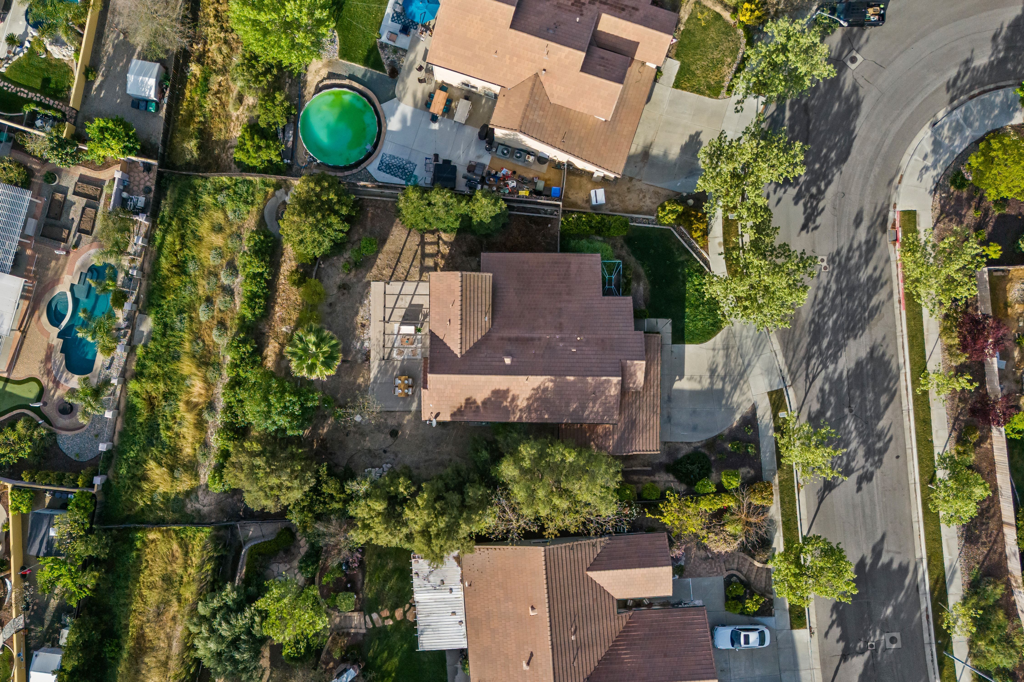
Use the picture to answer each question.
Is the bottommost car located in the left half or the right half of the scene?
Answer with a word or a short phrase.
right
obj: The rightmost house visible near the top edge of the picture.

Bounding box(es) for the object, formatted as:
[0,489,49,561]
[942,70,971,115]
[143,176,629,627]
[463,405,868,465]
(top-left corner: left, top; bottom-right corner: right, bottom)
[425,0,681,176]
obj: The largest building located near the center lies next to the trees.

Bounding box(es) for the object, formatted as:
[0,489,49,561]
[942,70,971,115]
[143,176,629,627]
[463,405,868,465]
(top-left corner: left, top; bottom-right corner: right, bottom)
[421,252,662,456]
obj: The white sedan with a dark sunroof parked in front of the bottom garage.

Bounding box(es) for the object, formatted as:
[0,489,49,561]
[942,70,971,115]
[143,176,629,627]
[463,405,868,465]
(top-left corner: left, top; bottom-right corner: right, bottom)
[712,622,772,653]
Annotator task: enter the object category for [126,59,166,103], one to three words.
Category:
shed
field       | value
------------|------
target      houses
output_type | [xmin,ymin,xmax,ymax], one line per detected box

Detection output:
[421,252,662,456]
[460,529,719,682]
[425,0,681,176]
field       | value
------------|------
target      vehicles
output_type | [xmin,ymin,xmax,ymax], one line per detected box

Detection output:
[712,622,772,653]
[815,0,887,33]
